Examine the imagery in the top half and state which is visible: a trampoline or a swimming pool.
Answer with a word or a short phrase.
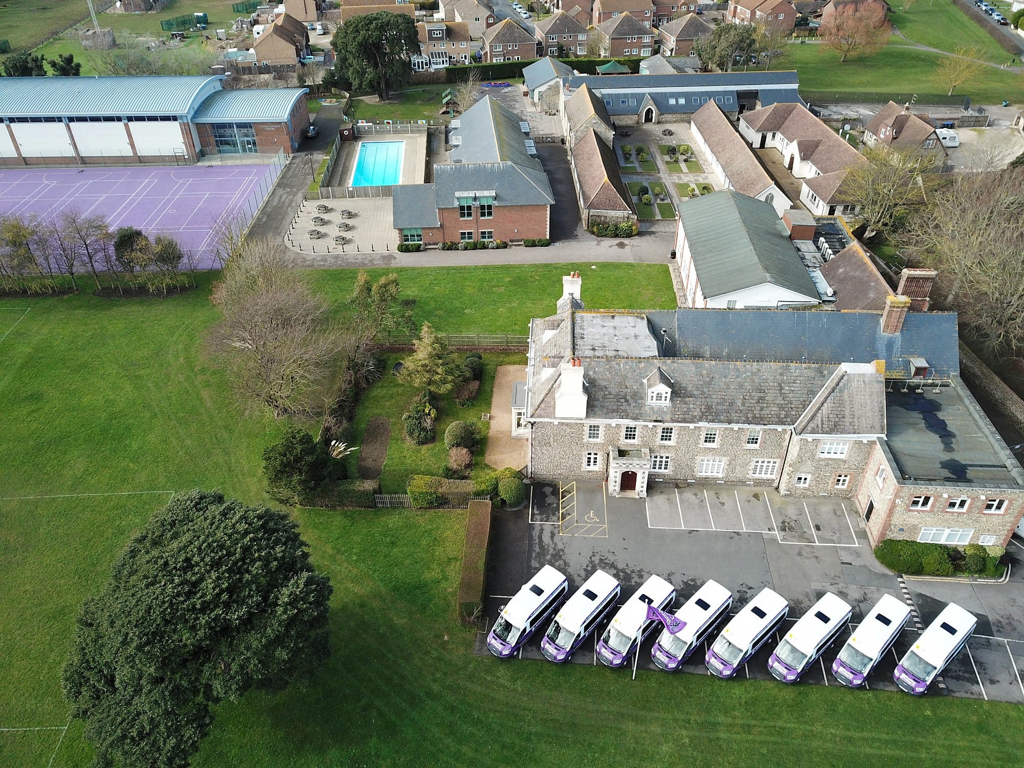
swimming pool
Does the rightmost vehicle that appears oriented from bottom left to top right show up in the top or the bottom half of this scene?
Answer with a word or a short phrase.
bottom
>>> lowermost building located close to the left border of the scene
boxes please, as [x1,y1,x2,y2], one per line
[0,74,305,167]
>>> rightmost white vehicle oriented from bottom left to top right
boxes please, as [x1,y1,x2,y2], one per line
[887,603,978,700]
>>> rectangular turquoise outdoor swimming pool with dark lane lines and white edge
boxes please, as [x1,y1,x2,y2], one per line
[350,140,405,186]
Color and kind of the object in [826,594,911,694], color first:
white vehicle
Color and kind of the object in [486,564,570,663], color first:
white vehicle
